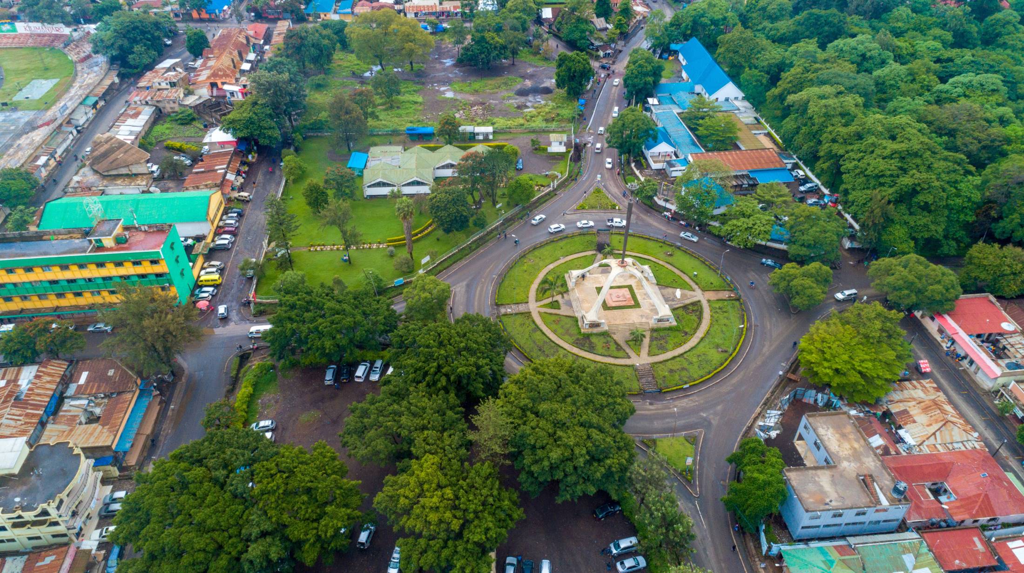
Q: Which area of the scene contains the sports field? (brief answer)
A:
top left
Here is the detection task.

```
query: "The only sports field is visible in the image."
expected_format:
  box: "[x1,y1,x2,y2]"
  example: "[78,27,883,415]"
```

[0,45,74,110]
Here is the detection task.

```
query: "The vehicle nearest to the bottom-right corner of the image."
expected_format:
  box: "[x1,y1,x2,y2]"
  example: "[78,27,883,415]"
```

[913,358,935,375]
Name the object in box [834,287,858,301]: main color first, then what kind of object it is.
white car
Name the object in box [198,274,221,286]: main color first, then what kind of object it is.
yellow vehicle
